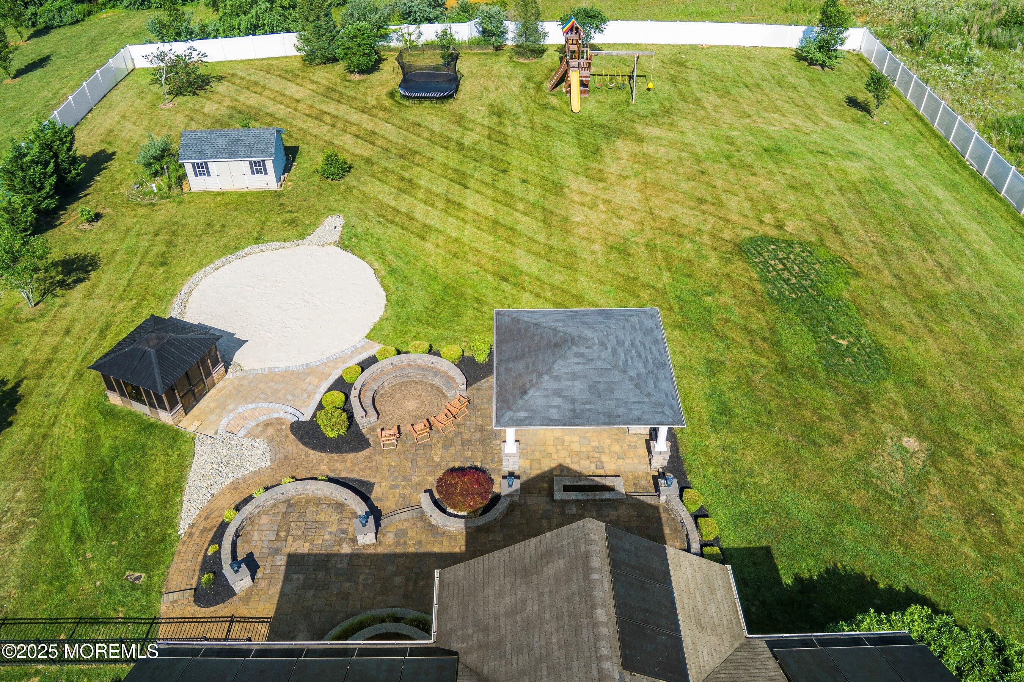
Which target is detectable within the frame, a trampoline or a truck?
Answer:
trampoline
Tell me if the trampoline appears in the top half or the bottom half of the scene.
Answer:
top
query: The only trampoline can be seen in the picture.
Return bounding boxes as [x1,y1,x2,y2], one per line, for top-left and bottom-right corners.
[394,47,461,107]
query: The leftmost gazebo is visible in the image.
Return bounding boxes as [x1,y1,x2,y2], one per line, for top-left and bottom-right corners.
[83,312,227,428]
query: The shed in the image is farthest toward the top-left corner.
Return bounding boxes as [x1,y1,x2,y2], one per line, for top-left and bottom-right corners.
[176,125,287,191]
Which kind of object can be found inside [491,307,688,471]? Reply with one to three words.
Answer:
building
